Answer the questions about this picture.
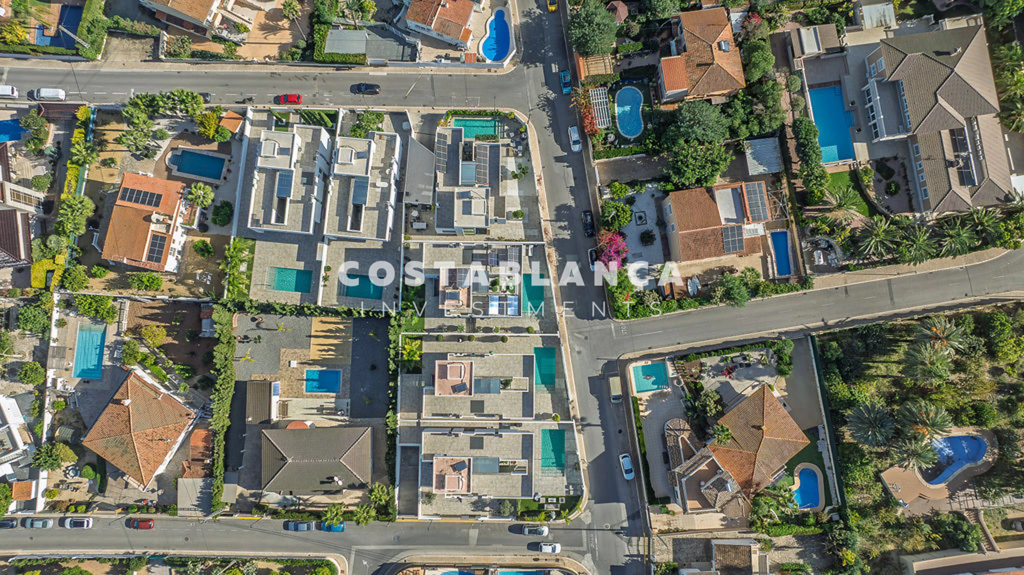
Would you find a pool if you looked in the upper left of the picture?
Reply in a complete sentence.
Yes, looking in the upper left of the picture, one can make out a pool.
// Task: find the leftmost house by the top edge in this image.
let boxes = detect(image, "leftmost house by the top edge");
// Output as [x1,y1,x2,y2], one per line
[145,0,220,39]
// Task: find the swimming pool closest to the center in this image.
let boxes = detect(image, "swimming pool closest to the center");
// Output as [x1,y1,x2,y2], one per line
[522,273,545,319]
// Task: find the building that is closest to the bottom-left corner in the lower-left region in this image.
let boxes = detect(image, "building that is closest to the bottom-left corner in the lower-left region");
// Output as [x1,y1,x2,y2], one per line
[12,477,41,501]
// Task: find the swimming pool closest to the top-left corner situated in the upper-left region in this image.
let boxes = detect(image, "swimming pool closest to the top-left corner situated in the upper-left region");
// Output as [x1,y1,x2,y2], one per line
[34,4,82,48]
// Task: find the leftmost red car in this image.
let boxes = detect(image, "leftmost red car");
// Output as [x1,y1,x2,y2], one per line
[132,517,154,530]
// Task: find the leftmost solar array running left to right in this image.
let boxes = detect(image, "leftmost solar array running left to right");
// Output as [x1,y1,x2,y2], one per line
[120,187,162,202]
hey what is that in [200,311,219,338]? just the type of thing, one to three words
shed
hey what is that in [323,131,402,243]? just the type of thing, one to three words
house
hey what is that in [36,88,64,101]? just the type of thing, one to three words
vehicle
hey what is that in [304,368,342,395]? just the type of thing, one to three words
swimming pool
